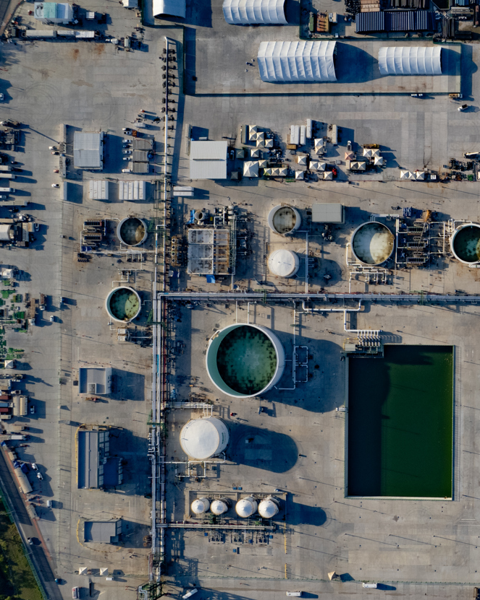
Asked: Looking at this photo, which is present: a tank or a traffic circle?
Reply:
tank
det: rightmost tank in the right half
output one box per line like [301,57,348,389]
[451,223,480,264]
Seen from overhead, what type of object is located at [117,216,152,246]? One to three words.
storage tank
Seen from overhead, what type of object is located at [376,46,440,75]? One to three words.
hangar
